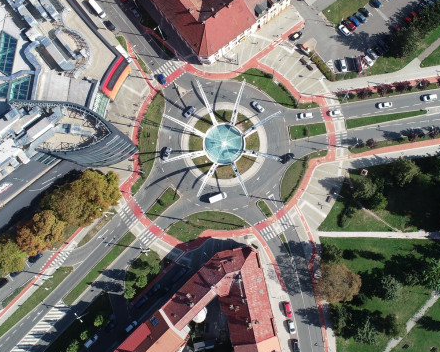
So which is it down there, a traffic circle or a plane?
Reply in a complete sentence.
Visible in the photo is a traffic circle.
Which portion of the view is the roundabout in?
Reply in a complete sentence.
The roundabout is in the center part of the image.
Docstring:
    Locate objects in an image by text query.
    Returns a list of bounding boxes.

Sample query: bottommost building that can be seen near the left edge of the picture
[0,100,137,196]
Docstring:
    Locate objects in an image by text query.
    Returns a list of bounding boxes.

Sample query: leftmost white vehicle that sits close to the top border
[89,0,105,17]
